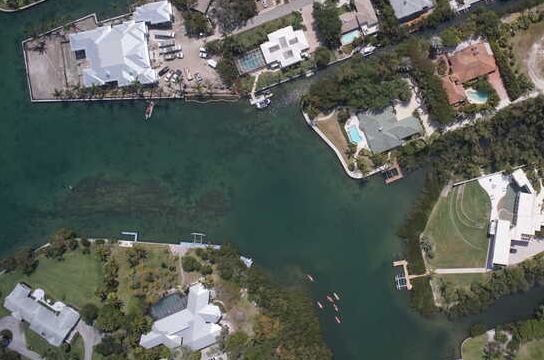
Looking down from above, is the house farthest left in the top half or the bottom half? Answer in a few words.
bottom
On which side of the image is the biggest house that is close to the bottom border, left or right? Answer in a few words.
left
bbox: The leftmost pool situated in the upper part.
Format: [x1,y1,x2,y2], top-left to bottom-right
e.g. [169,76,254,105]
[241,54,264,72]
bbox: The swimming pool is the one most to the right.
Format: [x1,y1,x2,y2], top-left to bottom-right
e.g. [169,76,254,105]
[467,91,489,104]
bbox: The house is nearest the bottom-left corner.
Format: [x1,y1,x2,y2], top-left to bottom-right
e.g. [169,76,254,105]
[4,283,81,347]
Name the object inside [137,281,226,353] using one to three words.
house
